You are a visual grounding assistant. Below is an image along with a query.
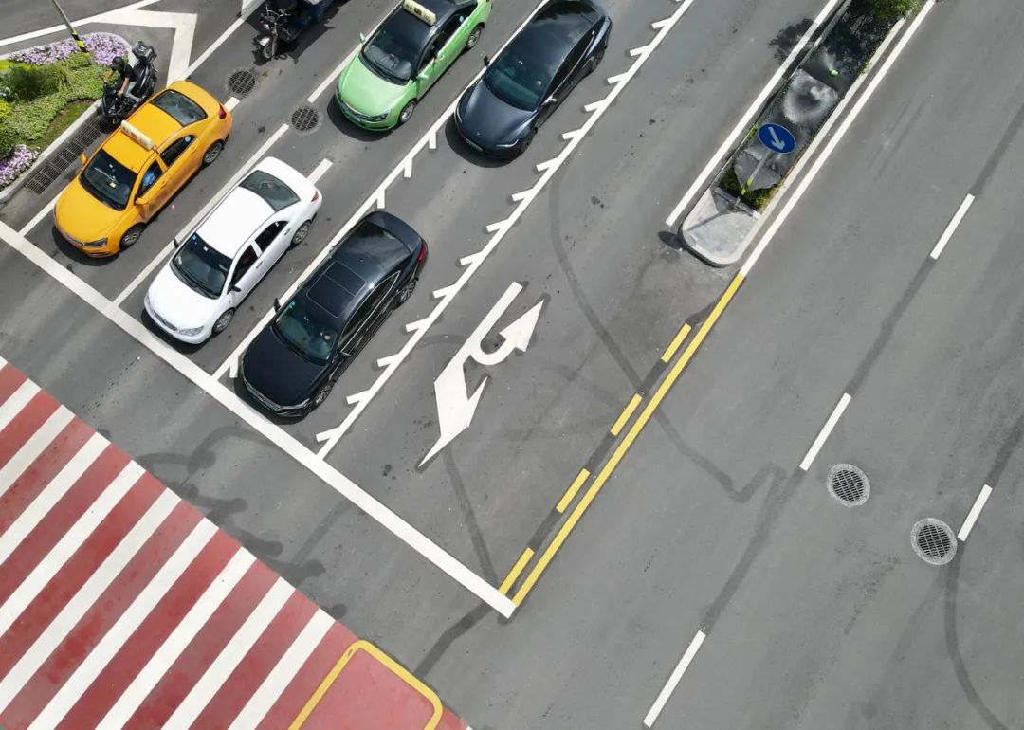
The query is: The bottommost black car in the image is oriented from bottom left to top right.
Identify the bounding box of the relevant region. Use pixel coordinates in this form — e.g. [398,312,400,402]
[237,211,431,421]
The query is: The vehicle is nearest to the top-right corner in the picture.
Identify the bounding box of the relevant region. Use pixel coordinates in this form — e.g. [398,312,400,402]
[450,0,613,162]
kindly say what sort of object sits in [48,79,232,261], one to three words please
car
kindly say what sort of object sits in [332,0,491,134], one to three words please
car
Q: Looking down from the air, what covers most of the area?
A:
paved ground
